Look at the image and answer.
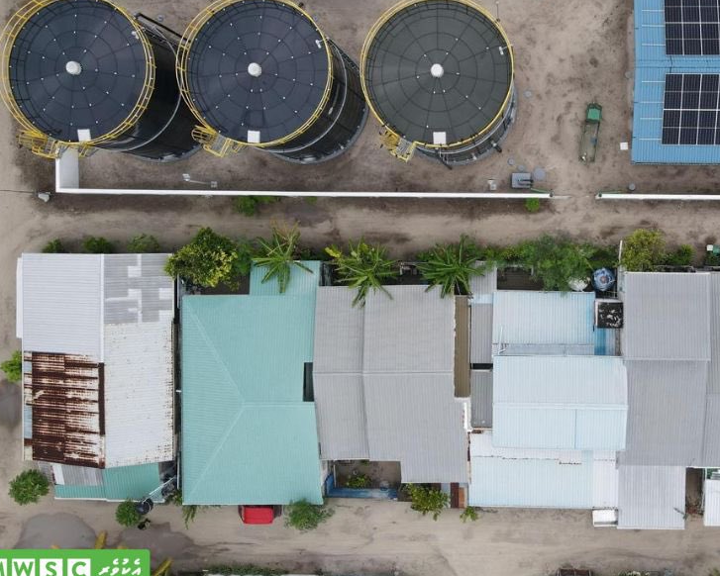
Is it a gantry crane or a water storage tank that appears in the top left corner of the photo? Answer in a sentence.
Visible in the top left corner of the photo is a water storage tank.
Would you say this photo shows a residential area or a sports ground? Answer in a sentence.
What you see here is a residential area.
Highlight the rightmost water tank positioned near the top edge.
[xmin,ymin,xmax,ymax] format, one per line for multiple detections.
[357,0,518,166]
